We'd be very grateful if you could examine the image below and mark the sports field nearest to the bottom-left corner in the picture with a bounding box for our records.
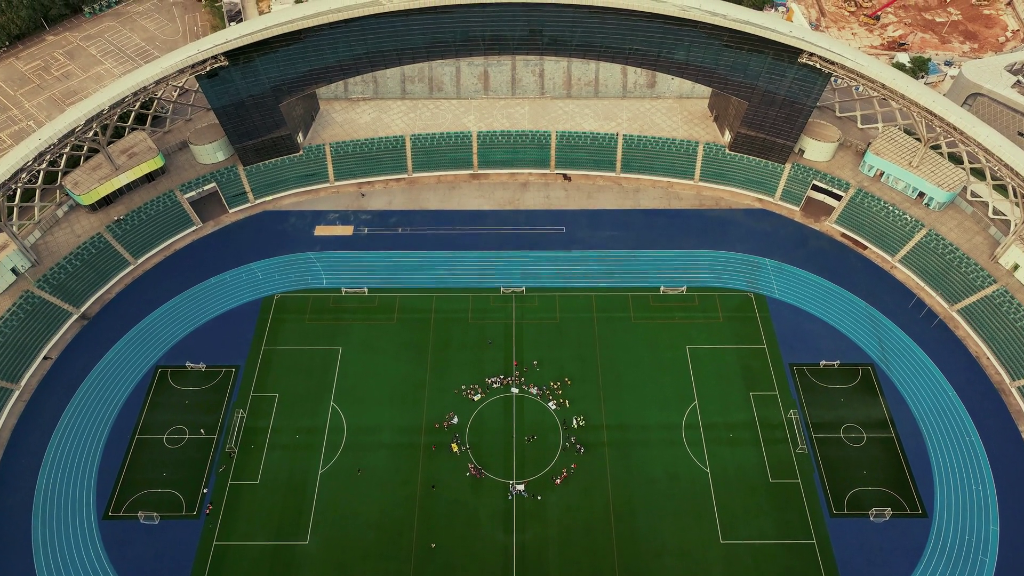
[103,365,240,519]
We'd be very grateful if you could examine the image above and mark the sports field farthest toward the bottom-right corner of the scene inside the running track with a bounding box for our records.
[789,363,928,518]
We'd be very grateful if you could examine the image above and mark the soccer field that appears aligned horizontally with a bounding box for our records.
[191,286,841,576]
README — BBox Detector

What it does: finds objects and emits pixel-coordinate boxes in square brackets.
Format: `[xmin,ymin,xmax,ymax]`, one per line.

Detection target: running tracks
[0,209,1024,576]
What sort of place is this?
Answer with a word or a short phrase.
sports ground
